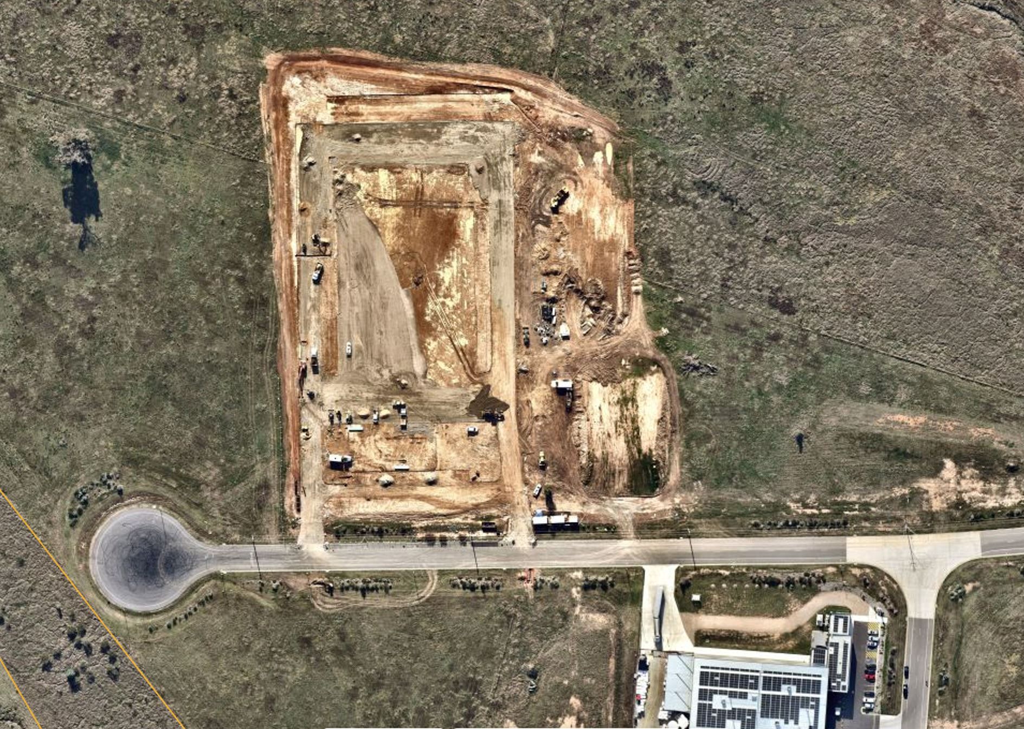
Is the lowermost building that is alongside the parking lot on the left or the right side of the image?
right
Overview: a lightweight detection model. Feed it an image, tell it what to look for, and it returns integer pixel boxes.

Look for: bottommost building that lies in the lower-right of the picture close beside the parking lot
[689,657,829,729]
